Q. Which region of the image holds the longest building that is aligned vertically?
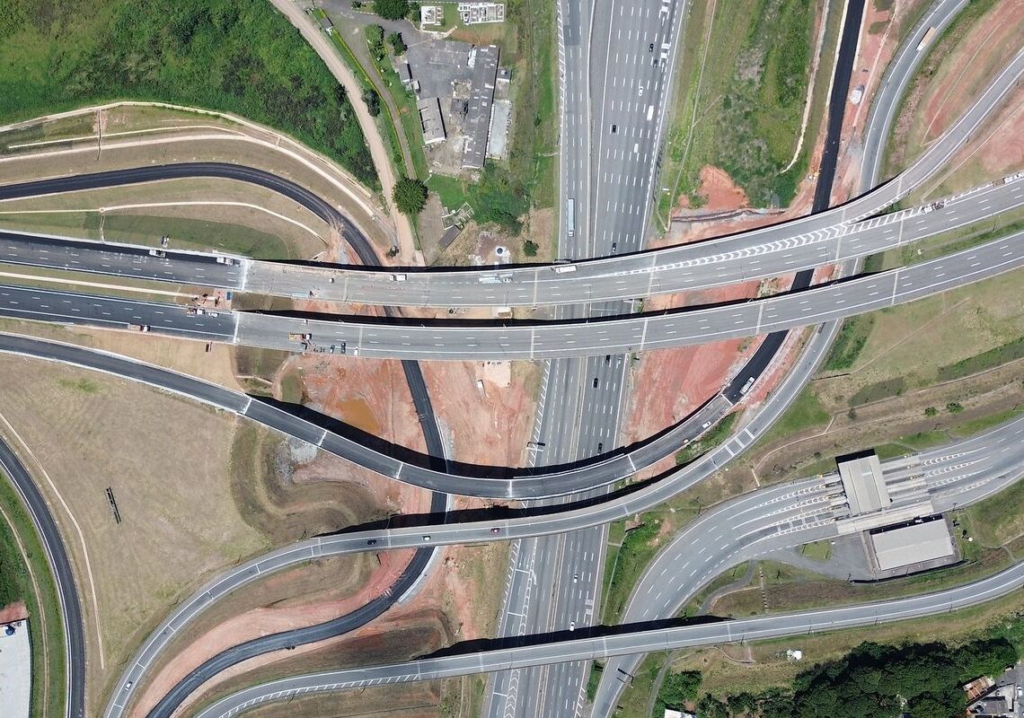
top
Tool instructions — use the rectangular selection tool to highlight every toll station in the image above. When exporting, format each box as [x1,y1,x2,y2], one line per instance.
[820,453,924,521]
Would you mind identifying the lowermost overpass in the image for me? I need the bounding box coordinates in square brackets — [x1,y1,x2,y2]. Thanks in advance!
[418,622,734,681]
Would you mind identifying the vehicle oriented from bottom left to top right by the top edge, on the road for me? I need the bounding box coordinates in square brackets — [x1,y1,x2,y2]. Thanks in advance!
[916,22,937,49]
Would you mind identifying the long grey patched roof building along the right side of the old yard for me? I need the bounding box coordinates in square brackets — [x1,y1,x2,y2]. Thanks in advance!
[462,41,500,170]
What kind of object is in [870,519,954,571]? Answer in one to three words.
building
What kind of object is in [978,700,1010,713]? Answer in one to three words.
house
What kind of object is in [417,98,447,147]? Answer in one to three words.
building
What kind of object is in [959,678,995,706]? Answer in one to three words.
house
